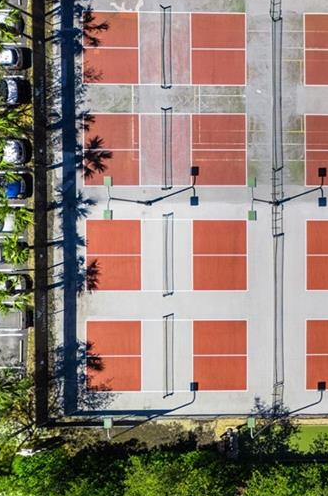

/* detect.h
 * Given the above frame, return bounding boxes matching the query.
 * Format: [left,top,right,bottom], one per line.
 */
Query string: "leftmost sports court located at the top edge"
[82,12,246,85]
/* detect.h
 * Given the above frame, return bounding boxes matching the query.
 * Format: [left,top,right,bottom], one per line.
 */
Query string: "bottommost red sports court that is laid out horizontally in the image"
[86,320,247,392]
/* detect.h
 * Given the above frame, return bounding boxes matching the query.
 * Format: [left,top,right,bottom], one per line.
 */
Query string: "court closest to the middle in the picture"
[85,220,247,290]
